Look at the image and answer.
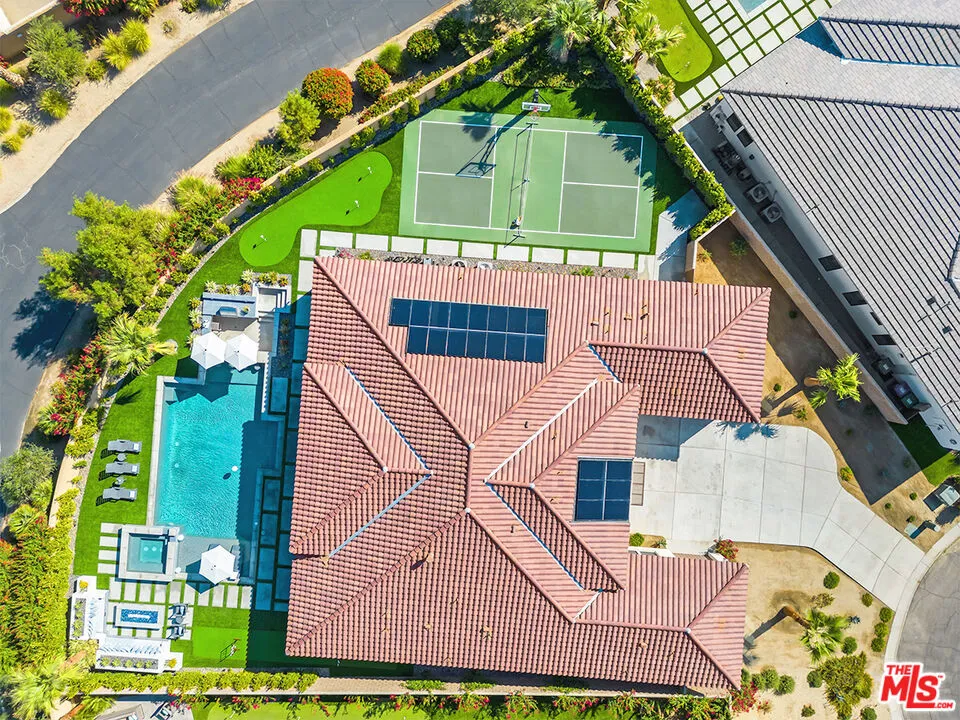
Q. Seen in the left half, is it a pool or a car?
pool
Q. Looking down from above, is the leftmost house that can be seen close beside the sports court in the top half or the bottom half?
bottom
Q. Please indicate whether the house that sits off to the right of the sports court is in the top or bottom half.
top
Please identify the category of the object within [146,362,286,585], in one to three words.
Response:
swimming pool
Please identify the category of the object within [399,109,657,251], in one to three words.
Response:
sports court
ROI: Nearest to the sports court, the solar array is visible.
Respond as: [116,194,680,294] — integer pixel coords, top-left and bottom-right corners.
[390,298,548,365]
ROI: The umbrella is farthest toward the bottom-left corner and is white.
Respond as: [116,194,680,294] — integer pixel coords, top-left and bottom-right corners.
[202,545,236,583]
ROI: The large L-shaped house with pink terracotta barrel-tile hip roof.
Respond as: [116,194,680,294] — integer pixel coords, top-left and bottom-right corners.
[283,255,772,693]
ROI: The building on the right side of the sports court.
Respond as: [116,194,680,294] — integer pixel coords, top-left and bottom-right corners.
[709,0,960,448]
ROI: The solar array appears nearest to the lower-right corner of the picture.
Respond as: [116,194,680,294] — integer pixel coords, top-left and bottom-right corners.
[574,459,632,520]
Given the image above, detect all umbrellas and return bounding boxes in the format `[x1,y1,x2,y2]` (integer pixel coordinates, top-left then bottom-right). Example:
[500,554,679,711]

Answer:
[202,545,236,583]
[191,330,227,369]
[225,332,261,370]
